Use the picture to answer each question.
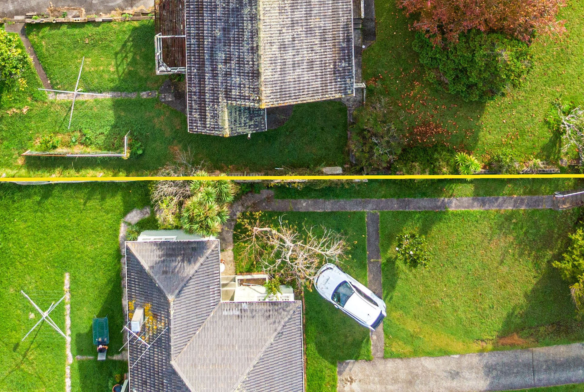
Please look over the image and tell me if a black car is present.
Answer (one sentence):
No, no black car is visible in the scene.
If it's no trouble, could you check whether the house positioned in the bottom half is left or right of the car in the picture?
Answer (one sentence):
The house positioned in the bottom half can be seen on the left of the car.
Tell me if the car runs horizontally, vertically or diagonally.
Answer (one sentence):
Seen from above, the car lies diagonally.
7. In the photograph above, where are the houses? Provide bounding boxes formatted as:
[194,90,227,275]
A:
[185,0,355,137]
[124,232,305,392]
